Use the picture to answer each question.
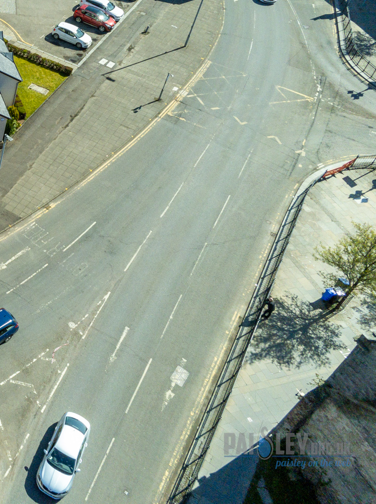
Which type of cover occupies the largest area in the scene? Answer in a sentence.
The bulk of the photo consists of paved ground.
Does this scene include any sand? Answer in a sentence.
No, sand can't be seen anywhere here.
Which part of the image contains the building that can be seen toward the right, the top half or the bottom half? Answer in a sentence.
You can find the building that can be seen toward the right in the bottom half.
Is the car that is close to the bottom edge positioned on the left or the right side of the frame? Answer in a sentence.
The car that is close to the bottom edge is on the left side of the image.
